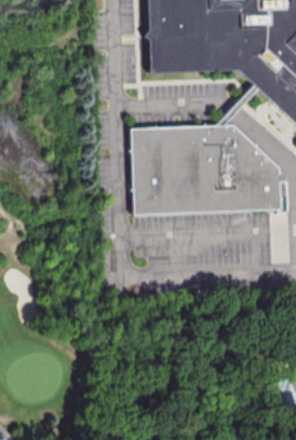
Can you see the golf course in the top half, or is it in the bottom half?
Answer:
bottom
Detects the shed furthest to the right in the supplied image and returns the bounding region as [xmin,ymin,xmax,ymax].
[280,380,296,408]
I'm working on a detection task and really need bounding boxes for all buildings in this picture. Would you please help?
[280,380,296,408]
[148,0,296,122]
[132,124,290,215]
